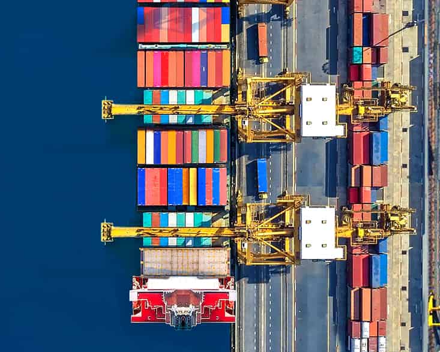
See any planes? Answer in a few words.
No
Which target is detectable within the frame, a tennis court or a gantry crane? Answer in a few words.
gantry crane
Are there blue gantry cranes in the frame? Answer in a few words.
No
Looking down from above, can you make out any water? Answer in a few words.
Yes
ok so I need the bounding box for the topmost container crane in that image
[104,66,414,143]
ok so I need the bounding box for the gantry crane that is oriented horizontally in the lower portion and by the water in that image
[104,182,414,264]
